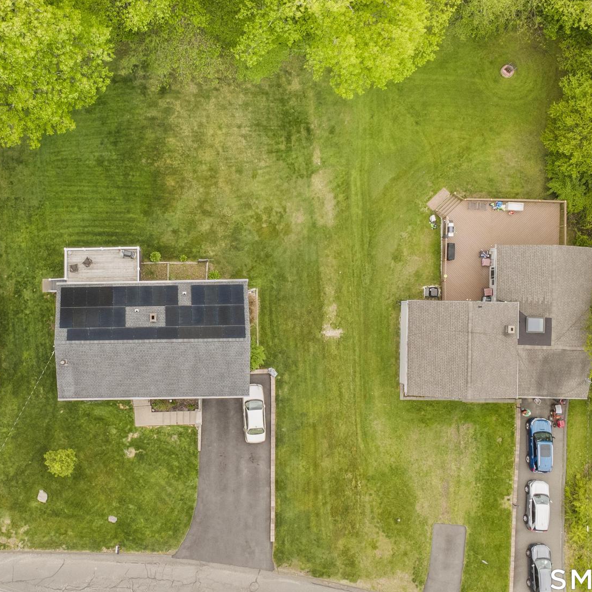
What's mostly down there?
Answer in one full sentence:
For the most part, this view shows grass.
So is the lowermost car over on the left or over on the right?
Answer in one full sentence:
You can find the lowermost car on the right side of the picture.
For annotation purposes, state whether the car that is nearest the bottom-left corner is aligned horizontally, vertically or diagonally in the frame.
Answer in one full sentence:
The car that is nearest the bottom-left corner is laid out vertically.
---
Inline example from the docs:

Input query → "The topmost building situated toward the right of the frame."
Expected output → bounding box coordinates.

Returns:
[398,244,592,401]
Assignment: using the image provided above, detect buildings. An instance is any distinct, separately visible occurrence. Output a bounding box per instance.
[398,244,592,401]
[52,279,252,403]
